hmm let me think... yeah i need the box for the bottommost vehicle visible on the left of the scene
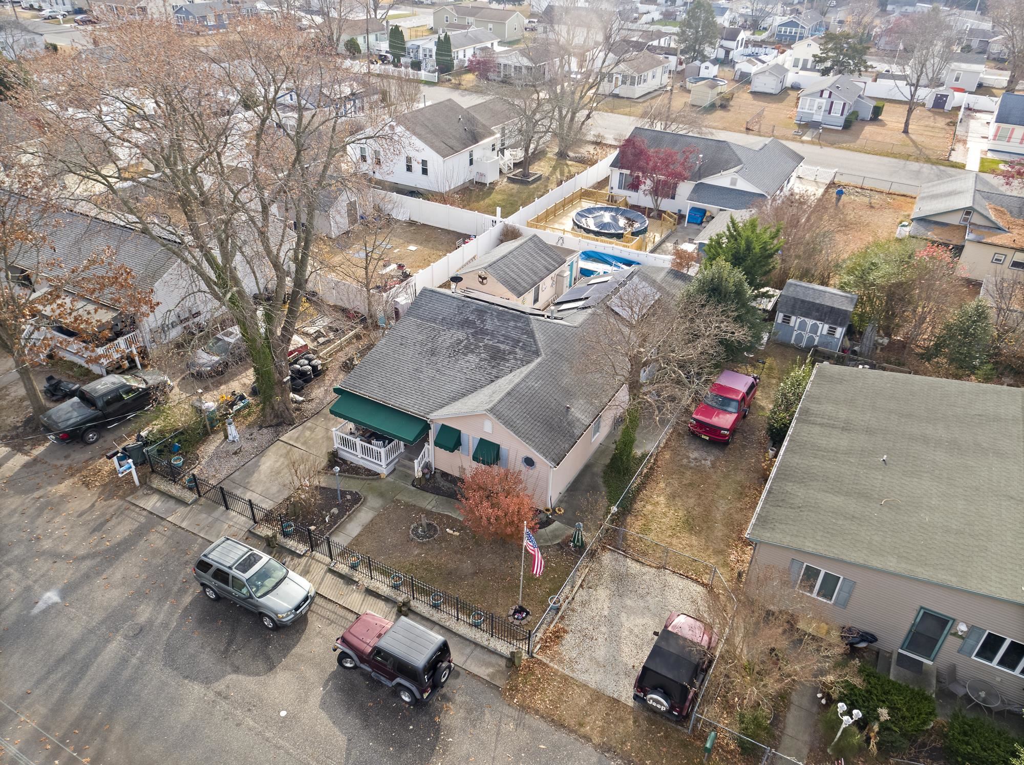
[327,603,461,708]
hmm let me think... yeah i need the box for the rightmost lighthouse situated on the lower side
[566,522,585,555]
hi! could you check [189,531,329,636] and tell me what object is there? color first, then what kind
gray car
